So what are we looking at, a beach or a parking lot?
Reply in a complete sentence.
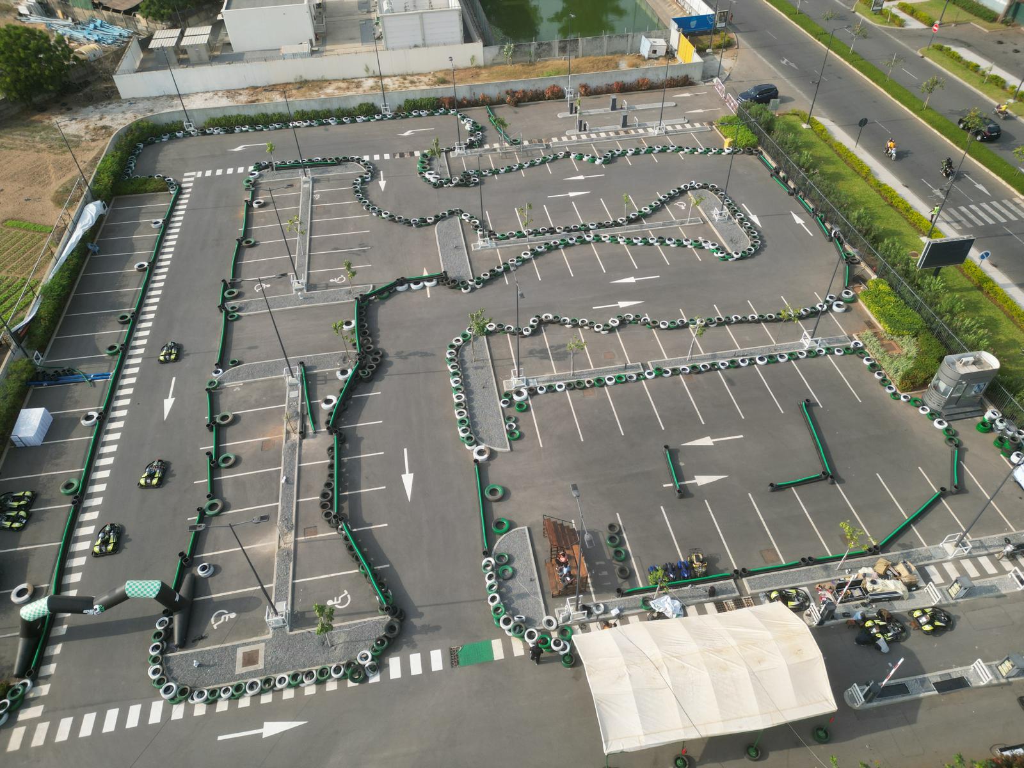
This image shows a parking lot.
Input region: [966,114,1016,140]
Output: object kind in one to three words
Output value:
car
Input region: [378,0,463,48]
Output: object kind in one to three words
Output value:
building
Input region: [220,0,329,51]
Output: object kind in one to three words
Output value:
building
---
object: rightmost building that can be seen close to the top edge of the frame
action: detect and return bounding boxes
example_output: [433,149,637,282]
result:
[638,35,670,62]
